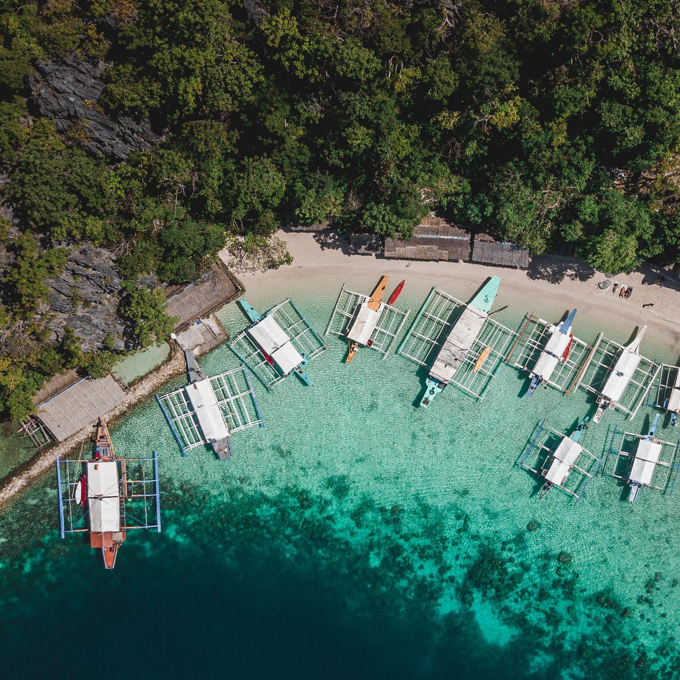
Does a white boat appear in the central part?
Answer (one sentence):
Yes, I can see a white boat in the central part.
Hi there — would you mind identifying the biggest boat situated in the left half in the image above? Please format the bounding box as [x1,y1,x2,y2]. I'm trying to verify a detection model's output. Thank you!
[55,416,161,605]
